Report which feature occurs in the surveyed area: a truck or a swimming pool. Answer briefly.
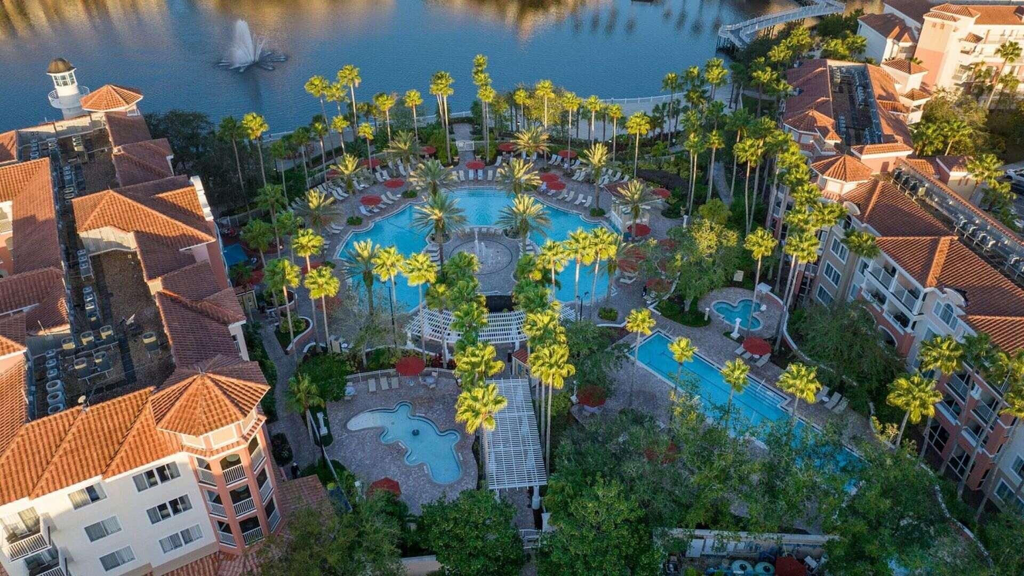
swimming pool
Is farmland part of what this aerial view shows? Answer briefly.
No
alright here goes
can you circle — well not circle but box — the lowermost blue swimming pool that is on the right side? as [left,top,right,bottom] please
[627,327,877,498]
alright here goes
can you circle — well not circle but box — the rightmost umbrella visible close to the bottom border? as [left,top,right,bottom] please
[773,553,807,576]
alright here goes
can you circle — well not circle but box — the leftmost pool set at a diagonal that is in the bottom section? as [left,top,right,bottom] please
[346,401,463,485]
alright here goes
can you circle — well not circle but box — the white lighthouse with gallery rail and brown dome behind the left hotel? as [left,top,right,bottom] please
[50,56,93,121]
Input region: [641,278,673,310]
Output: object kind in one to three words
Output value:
umbrella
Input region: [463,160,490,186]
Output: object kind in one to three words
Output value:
umbrella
